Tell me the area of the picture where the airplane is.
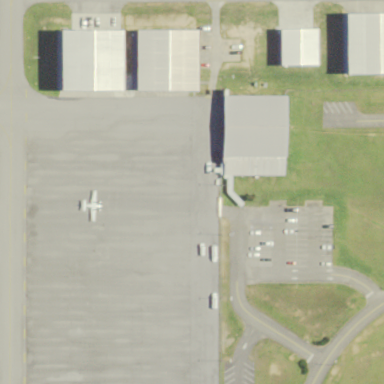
left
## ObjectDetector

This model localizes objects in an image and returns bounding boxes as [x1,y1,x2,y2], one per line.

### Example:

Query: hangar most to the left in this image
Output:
[58,31,126,92]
